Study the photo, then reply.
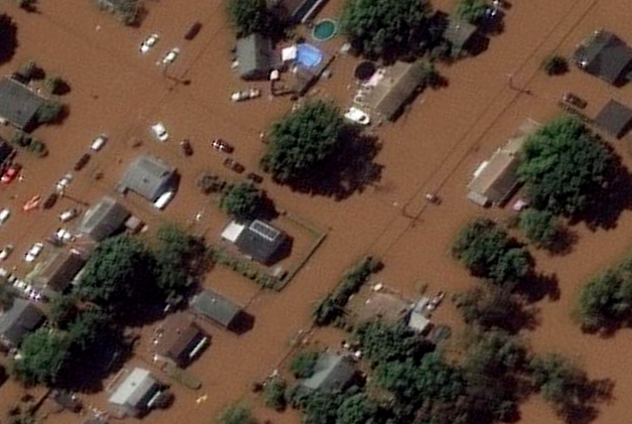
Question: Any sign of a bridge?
No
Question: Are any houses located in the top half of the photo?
Yes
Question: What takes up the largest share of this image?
water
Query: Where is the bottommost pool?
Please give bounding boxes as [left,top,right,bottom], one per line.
[296,44,322,68]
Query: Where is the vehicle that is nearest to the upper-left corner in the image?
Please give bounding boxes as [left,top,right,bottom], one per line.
[140,34,157,52]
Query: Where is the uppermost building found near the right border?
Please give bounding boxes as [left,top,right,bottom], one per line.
[577,30,632,90]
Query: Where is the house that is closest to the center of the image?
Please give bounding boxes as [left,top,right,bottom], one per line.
[221,221,286,266]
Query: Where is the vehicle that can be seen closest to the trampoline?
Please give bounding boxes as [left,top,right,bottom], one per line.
[346,107,367,122]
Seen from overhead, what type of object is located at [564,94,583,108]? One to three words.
vehicle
